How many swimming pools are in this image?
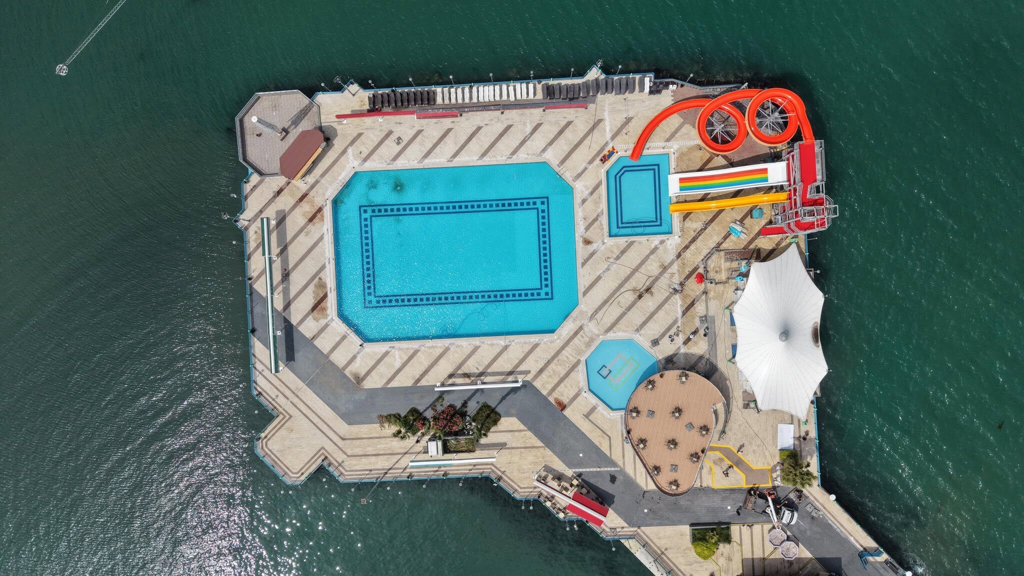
3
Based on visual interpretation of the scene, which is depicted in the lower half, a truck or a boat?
truck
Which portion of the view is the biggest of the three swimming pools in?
center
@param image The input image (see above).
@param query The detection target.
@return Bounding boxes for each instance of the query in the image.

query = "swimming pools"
[579,332,664,417]
[601,148,677,242]
[325,155,585,349]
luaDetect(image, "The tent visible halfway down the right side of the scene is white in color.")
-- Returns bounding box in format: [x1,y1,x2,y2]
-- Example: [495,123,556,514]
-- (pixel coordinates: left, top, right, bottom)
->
[728,240,828,425]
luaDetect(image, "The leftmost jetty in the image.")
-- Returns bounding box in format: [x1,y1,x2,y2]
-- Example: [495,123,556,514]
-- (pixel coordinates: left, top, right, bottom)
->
[622,541,668,576]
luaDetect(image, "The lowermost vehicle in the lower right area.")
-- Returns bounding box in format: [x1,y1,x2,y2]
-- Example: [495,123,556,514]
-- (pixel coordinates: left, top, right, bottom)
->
[746,486,804,533]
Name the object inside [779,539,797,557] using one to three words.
umbrella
